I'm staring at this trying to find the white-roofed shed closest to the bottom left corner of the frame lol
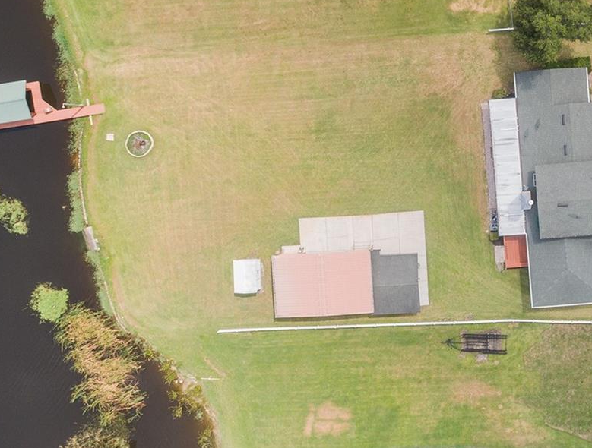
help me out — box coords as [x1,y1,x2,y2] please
[234,258,267,295]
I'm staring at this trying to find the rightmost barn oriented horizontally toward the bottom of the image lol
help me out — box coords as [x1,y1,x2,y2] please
[272,250,421,320]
